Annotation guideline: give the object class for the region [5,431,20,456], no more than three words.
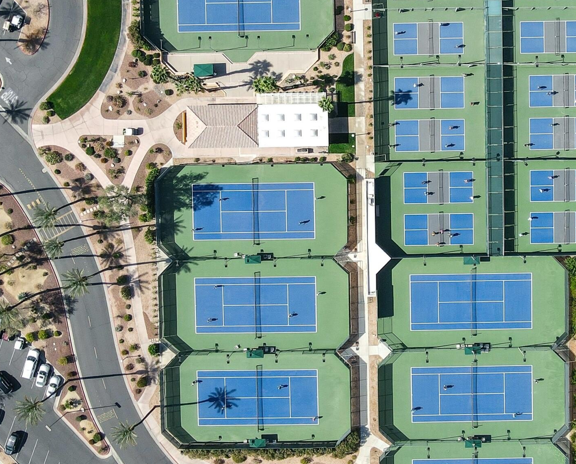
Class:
car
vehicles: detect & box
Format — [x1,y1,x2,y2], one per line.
[35,363,51,388]
[5,431,20,456]
[46,374,62,399]
[298,148,309,153]
[1,330,13,343]
[126,128,138,134]
[2,21,17,31]
[11,15,25,26]
[19,351,40,380]
[0,371,14,396]
[14,338,29,350]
